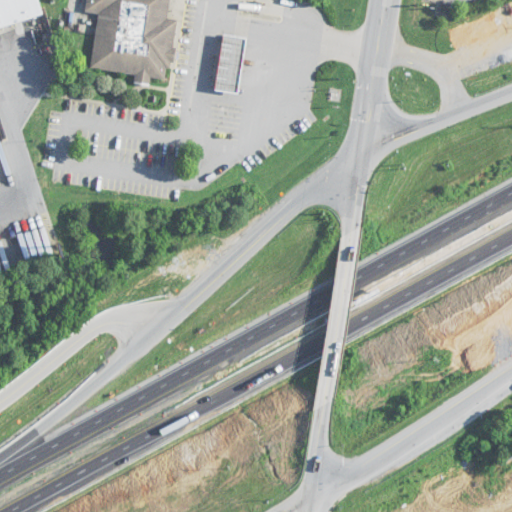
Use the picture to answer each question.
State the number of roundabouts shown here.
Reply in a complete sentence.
I count no roundabouts.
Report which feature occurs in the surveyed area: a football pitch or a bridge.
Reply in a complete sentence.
The one in the frame is a bridge.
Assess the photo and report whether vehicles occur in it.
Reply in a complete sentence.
Yes, you can see a vehicle in this photo.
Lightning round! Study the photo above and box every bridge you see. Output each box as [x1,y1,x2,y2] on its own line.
[314,230,361,409]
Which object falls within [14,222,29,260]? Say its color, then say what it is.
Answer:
white vehicle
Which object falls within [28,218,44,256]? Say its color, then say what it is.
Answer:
white vehicle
